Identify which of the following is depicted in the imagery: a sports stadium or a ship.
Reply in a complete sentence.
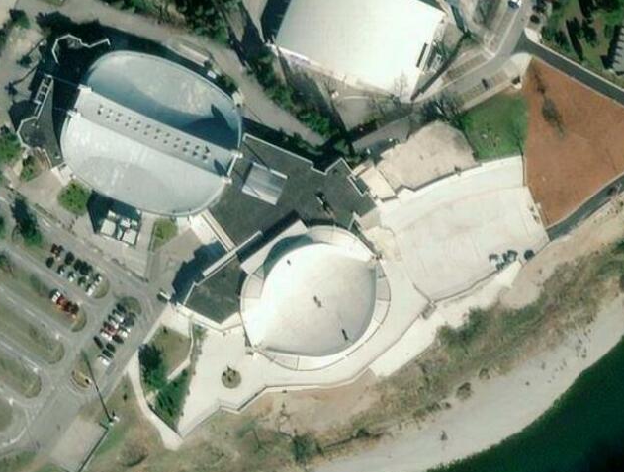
The image shows a sports stadium.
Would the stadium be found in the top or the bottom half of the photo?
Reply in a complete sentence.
The stadium is in the top half of the image.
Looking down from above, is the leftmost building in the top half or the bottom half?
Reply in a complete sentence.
Seen from above, the leftmost building lies in the top half of the view.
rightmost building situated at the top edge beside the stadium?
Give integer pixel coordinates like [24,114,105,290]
[275,0,447,101]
